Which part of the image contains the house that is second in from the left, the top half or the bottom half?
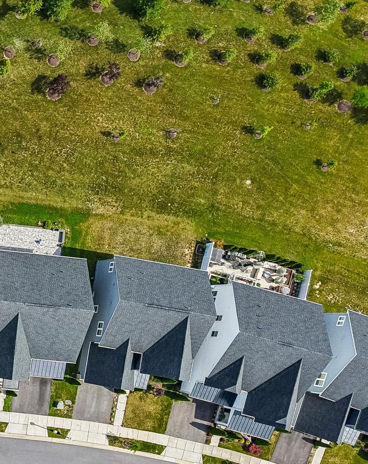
bottom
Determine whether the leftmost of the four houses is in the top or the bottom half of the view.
bottom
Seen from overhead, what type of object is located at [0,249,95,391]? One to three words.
house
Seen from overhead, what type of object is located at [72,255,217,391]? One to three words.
house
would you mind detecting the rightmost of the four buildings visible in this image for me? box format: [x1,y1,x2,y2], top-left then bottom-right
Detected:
[290,311,368,446]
